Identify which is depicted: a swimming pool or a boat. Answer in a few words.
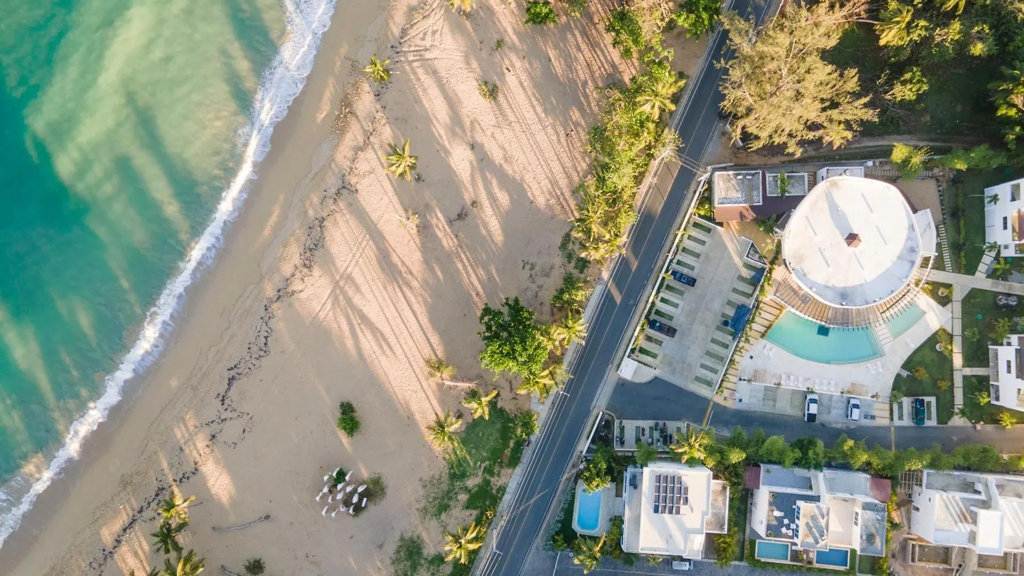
swimming pool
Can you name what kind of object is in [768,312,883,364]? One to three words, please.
swimming pool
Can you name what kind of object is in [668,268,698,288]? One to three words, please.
car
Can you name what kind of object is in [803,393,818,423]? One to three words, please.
car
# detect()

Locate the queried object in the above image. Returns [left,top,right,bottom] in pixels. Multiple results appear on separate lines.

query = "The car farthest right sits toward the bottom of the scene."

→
[910,397,926,426]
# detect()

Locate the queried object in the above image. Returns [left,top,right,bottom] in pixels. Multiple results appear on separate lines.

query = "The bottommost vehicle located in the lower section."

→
[670,558,693,571]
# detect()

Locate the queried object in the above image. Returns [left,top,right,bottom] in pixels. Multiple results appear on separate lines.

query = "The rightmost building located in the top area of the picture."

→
[983,179,1024,257]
